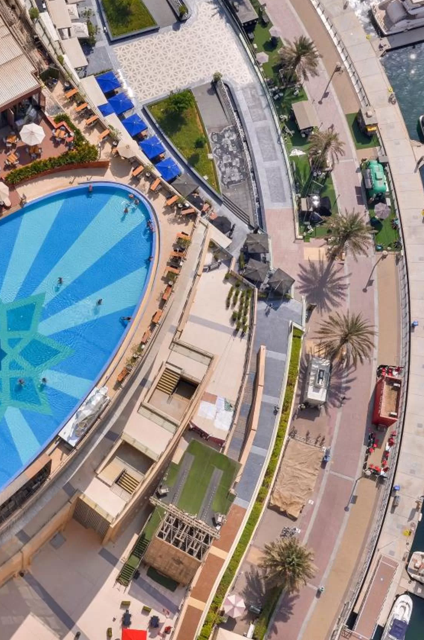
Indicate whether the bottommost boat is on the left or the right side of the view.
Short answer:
right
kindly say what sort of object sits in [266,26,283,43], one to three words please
umbrella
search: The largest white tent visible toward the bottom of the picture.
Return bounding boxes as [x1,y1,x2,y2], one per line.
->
[188,392,235,445]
